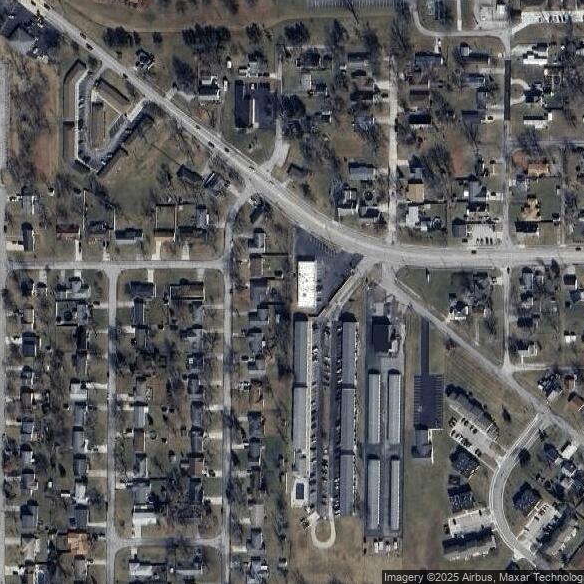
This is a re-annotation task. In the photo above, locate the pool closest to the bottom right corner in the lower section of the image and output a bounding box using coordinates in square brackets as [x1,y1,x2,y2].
[291,477,309,507]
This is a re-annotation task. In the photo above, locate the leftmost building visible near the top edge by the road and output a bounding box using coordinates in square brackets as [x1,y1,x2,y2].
[5,26,35,57]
